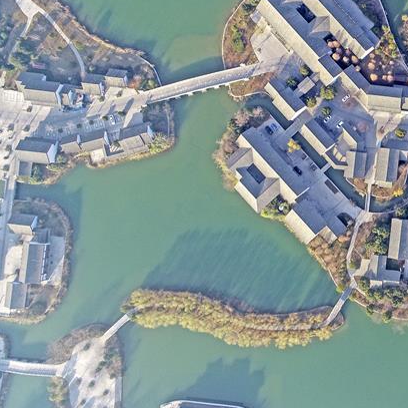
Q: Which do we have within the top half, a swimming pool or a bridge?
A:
bridge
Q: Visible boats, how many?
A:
none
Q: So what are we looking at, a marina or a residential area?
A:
residential area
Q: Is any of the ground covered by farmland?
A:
No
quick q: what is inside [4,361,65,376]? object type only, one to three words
bridge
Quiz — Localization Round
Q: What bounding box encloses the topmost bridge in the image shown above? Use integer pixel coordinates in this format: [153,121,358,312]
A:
[144,55,266,105]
